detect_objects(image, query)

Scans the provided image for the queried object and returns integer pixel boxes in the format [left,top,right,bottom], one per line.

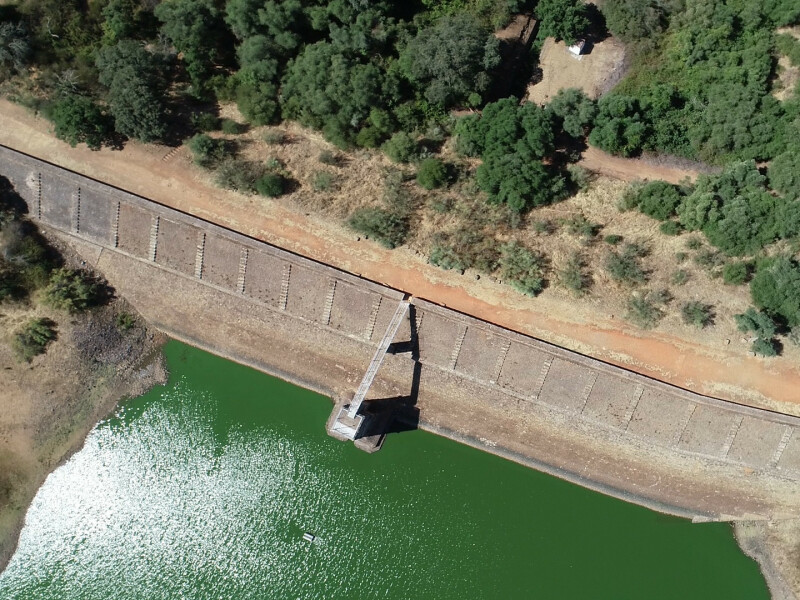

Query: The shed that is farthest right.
[566,34,588,62]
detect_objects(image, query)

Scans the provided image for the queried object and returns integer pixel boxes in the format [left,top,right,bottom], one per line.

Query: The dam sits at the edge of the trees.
[0,147,800,529]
